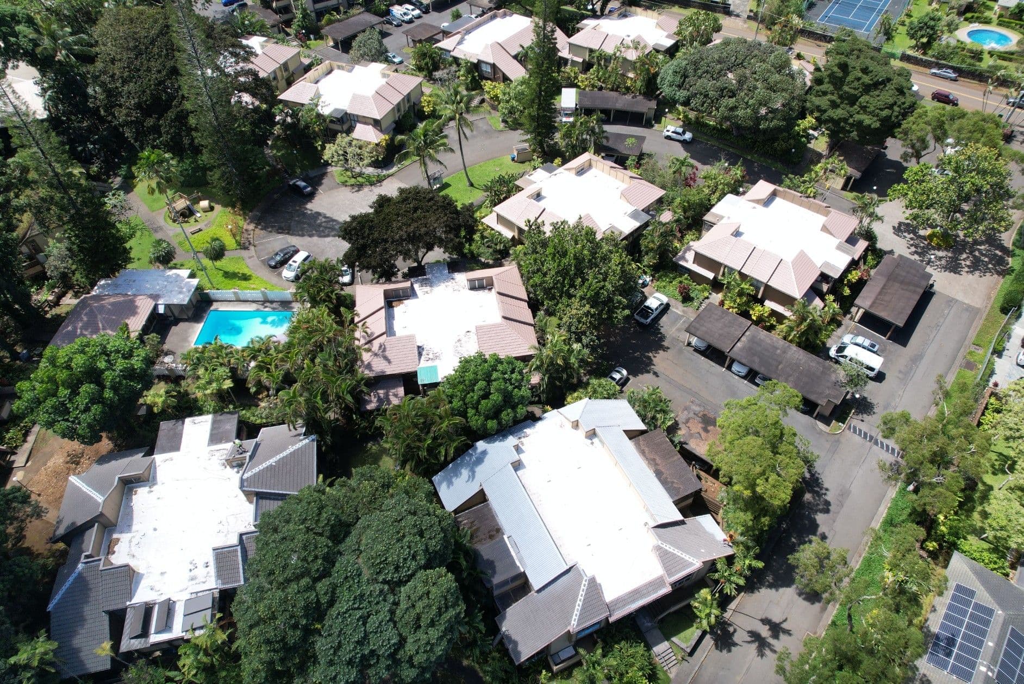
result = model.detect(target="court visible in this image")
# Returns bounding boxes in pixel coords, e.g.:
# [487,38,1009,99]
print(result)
[800,0,903,37]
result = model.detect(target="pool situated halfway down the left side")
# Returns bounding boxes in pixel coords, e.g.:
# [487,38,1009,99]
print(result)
[155,297,322,379]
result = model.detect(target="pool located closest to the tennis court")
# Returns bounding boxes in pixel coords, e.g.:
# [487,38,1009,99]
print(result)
[954,23,1023,50]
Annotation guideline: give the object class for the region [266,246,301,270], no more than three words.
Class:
car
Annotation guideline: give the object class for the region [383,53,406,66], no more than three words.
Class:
vehicle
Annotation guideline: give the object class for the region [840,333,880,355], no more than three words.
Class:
car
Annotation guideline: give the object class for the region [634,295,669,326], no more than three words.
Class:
truck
